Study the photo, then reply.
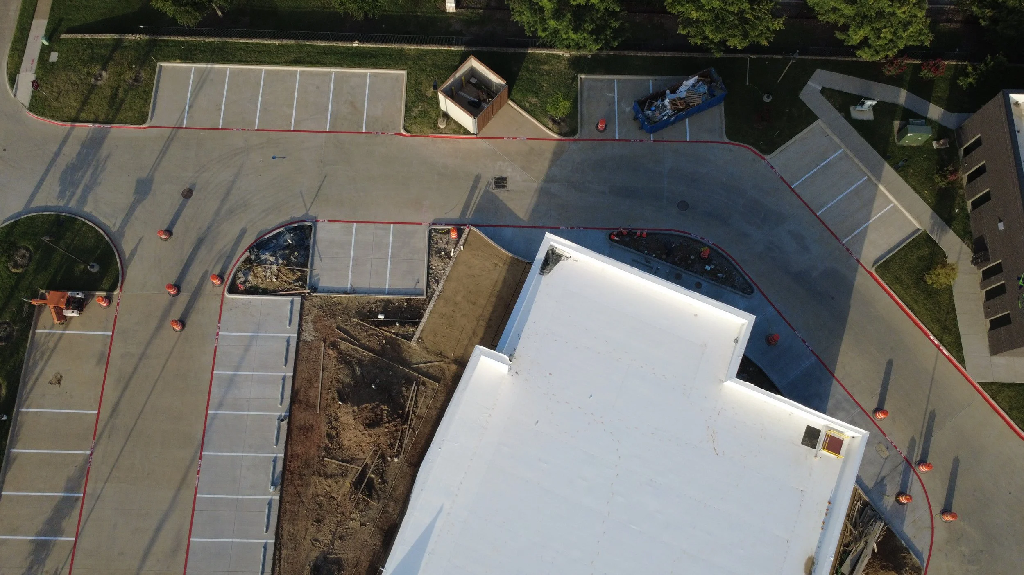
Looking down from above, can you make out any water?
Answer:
No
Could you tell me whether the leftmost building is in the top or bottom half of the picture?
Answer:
bottom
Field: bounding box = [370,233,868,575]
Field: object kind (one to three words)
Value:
building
